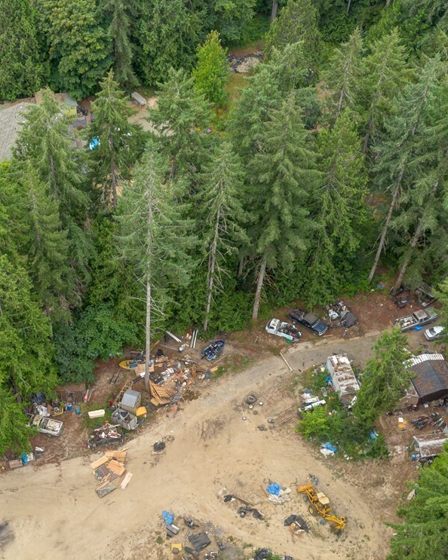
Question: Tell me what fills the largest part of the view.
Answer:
trees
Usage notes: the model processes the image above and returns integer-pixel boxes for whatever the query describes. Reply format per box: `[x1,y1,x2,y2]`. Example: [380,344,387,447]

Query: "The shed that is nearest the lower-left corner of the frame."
[119,387,143,409]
